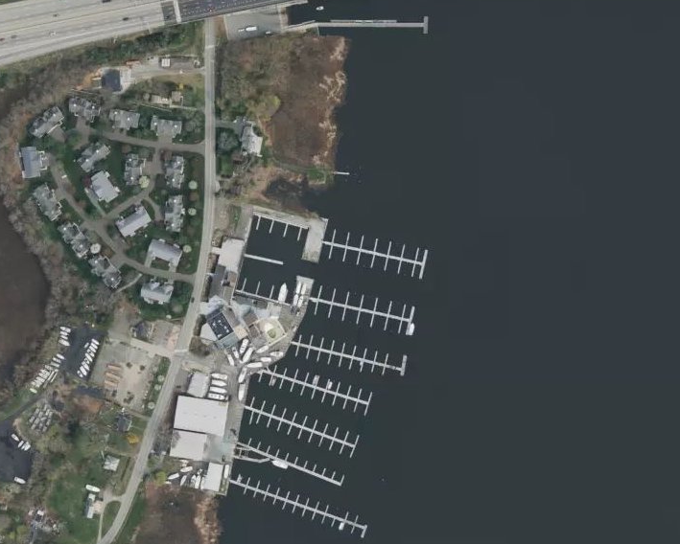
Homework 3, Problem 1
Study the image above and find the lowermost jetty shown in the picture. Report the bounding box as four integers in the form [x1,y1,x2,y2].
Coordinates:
[229,474,368,537]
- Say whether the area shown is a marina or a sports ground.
marina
